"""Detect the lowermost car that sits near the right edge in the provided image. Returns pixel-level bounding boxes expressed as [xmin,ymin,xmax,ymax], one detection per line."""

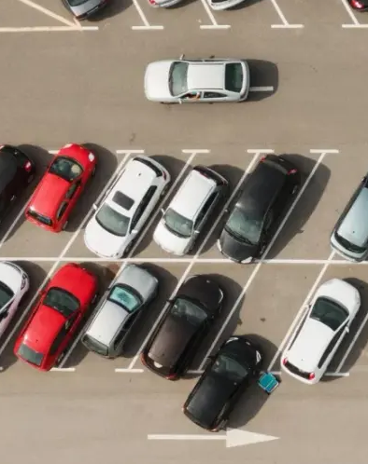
[281,280,356,383]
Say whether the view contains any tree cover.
No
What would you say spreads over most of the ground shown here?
paved ground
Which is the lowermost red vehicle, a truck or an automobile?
automobile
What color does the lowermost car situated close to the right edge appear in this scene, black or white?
white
